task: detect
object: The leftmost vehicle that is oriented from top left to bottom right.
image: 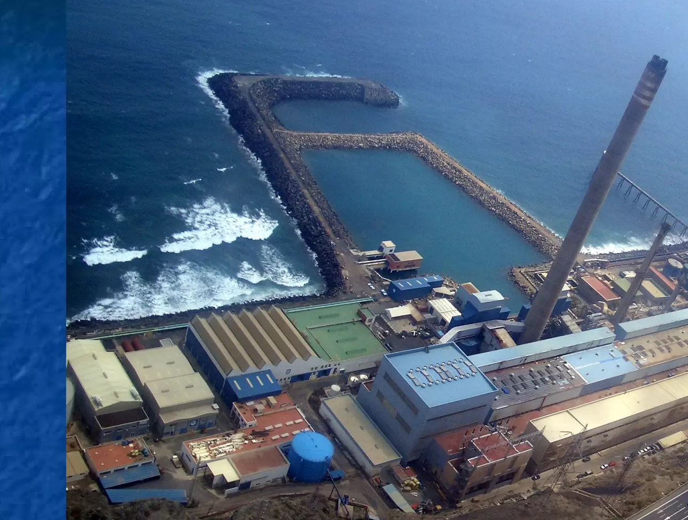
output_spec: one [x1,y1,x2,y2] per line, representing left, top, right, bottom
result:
[169,453,183,469]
